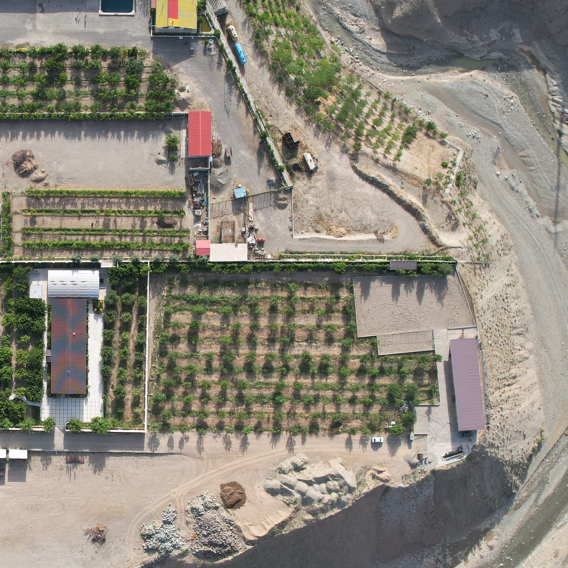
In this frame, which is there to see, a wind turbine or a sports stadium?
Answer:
sports stadium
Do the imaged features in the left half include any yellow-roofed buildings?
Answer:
Yes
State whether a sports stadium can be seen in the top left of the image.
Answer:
No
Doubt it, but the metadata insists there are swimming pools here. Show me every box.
[99,0,135,16]
[199,12,212,33]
